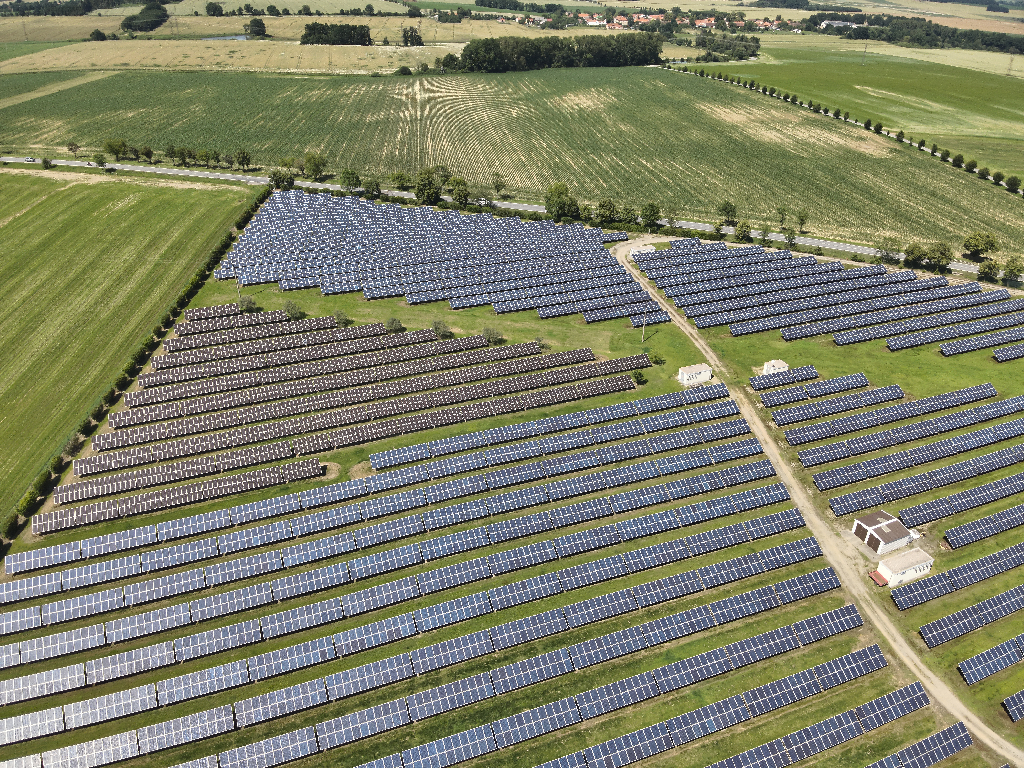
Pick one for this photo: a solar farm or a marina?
solar farm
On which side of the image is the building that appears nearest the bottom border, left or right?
right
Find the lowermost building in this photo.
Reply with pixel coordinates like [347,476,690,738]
[876,546,937,588]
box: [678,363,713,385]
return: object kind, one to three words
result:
building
